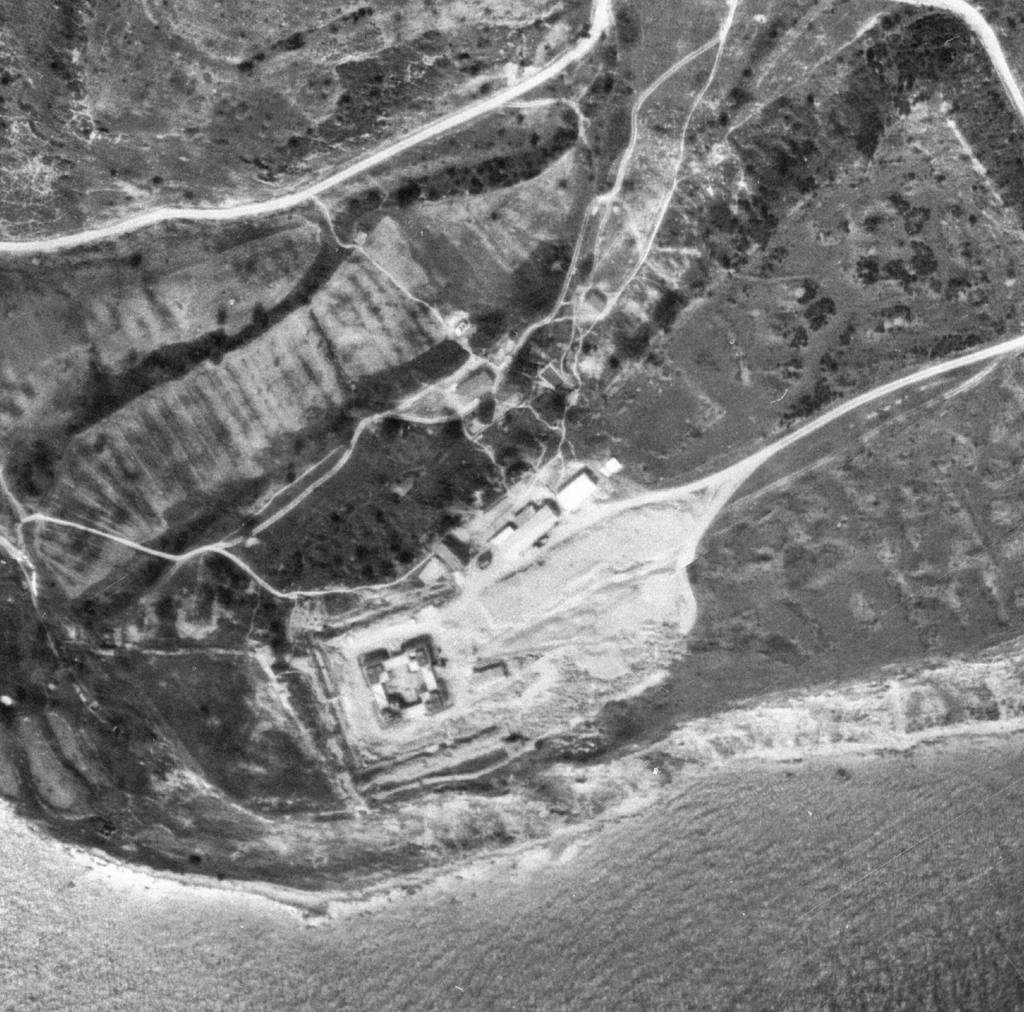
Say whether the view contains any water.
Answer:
Yes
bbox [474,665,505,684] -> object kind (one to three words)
house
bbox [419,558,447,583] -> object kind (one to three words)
house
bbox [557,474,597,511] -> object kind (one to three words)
barn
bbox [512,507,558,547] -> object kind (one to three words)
shed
